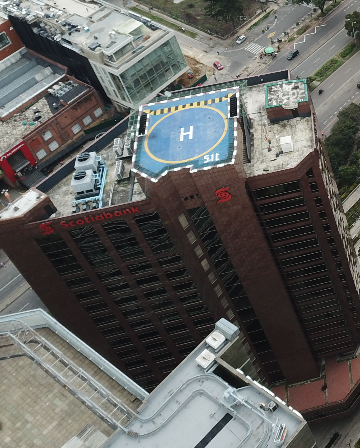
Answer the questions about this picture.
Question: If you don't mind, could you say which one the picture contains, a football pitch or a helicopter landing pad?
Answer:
helicopter landing pad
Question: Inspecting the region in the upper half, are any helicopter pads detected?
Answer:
Yes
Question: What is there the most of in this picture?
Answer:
buildings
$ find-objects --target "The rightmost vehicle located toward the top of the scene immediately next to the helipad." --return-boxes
[263,58,293,82]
